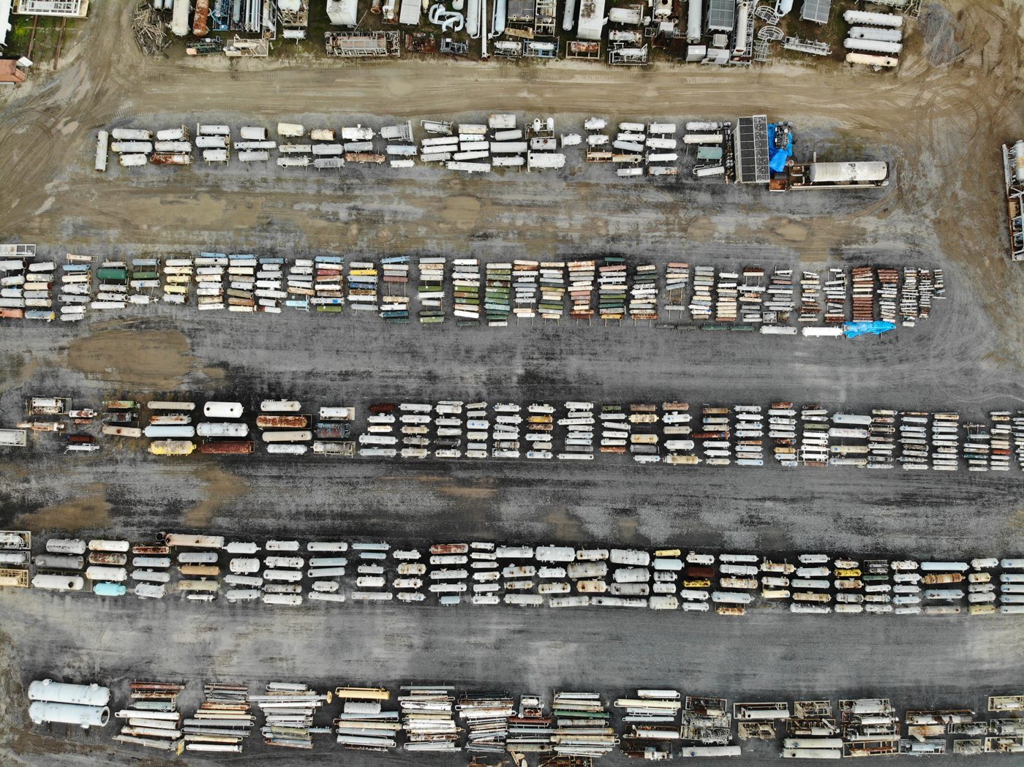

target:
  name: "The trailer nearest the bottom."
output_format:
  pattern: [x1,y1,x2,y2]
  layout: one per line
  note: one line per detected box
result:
[787,160,890,191]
